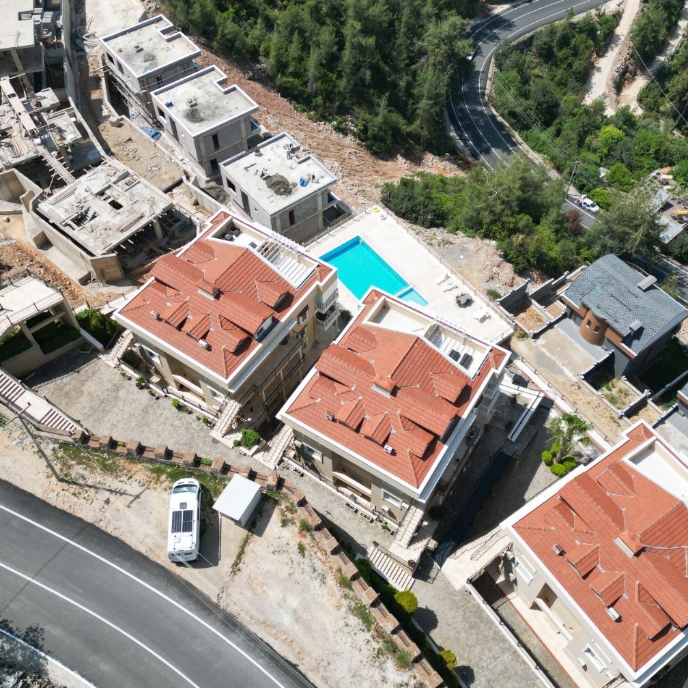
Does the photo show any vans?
Yes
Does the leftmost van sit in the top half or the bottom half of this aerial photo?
bottom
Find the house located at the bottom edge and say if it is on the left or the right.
right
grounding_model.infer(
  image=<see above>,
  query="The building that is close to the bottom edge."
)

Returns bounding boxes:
[493,419,688,688]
